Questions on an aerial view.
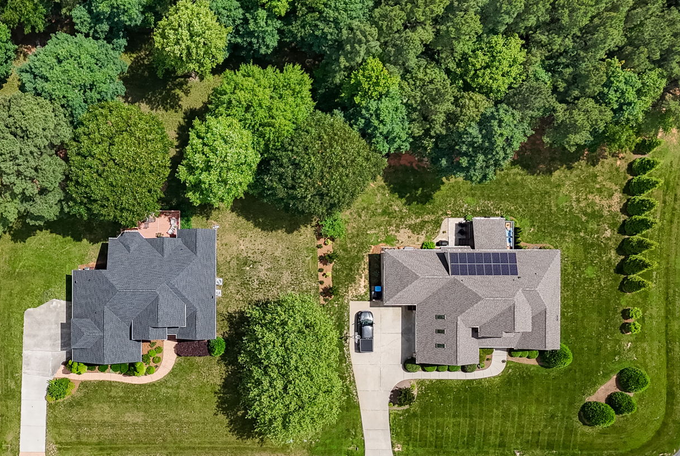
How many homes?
two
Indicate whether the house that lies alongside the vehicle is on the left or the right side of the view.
right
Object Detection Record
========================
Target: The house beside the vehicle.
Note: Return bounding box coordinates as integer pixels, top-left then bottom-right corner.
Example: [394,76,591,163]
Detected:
[379,218,561,367]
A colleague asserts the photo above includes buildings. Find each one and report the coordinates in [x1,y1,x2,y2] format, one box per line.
[69,227,217,365]
[379,218,561,367]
